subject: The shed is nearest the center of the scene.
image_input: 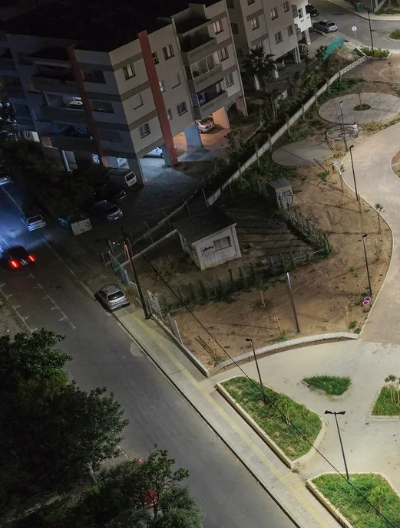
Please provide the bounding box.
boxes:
[169,207,240,271]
